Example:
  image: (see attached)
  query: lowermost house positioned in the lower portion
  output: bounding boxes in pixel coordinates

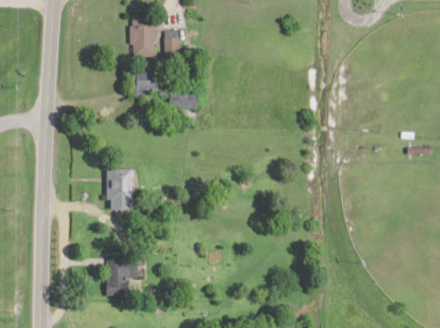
[108,260,146,296]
